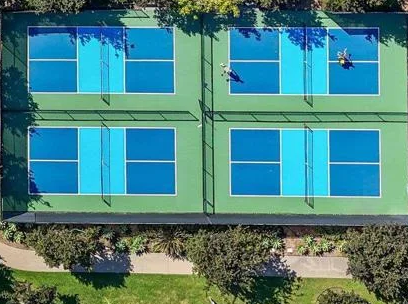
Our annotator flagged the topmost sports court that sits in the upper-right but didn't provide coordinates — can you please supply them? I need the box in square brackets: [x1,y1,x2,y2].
[229,28,380,96]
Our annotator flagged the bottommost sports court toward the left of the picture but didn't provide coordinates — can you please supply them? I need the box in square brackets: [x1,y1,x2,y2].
[29,127,177,196]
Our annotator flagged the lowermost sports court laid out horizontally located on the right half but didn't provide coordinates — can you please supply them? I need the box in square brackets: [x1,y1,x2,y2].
[230,129,380,197]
